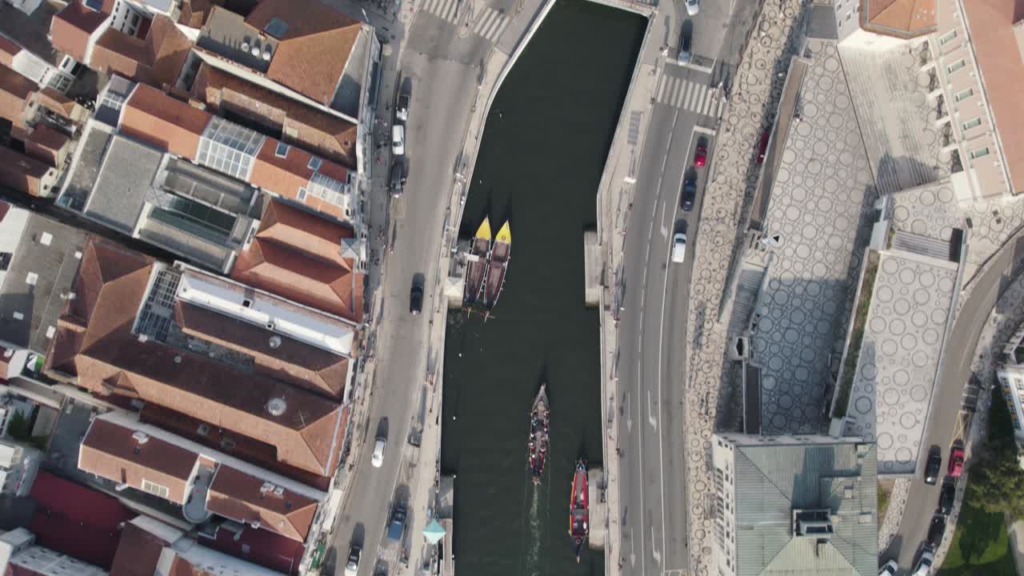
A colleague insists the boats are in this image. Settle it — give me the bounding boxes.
[527,384,549,490]
[569,458,588,565]
[481,219,512,321]
[463,215,492,318]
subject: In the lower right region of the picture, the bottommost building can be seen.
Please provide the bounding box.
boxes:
[712,431,877,576]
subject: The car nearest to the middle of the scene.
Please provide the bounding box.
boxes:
[410,287,423,313]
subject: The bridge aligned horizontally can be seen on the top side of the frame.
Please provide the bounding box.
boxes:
[586,0,659,30]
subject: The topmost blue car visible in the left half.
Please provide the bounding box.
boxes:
[388,509,404,539]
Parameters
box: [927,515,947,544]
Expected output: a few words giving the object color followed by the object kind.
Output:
black car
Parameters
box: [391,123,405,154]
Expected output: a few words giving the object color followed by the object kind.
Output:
white vehicle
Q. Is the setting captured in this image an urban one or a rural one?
urban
